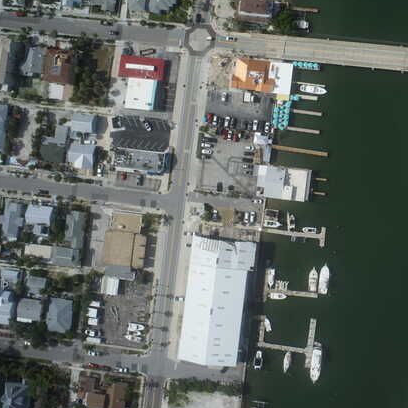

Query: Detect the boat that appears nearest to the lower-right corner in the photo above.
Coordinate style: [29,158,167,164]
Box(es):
[310,343,323,382]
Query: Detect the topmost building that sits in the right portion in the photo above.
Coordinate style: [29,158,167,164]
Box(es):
[236,0,275,25]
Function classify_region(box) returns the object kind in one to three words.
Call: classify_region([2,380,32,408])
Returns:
house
